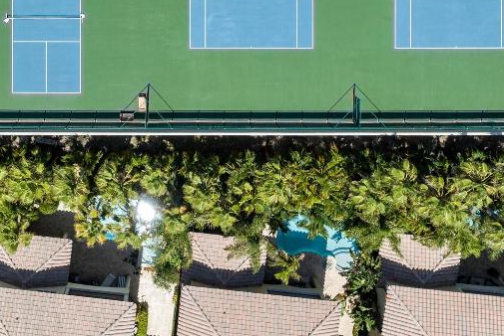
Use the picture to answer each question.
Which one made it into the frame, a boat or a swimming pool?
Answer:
swimming pool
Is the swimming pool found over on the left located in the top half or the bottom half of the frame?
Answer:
bottom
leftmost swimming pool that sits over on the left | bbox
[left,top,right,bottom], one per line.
[93,187,162,268]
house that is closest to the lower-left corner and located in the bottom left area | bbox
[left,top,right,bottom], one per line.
[0,232,136,336]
